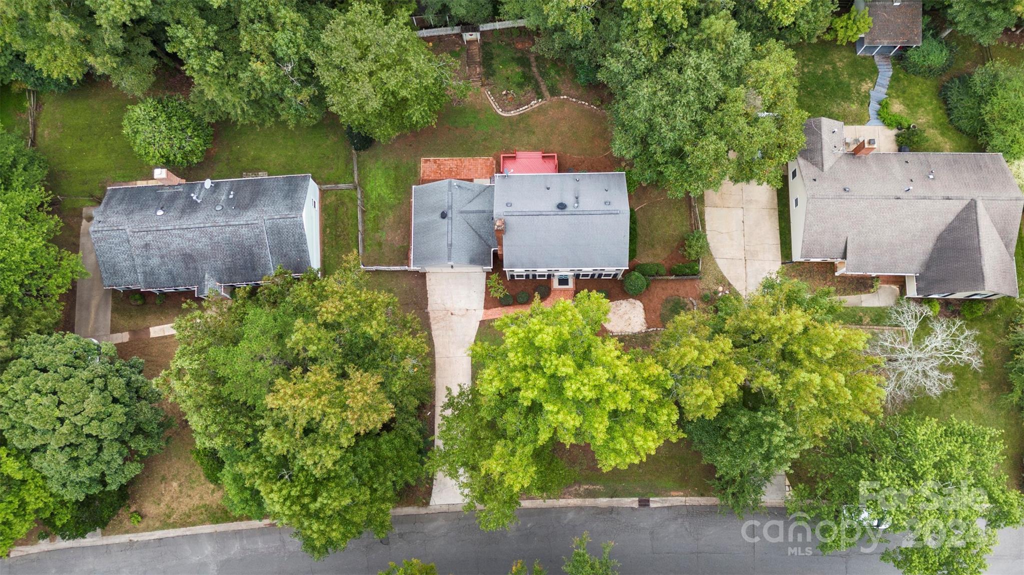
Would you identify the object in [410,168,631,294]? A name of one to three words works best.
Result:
house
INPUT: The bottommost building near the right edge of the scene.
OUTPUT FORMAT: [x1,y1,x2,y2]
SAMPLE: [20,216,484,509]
[782,117,1024,302]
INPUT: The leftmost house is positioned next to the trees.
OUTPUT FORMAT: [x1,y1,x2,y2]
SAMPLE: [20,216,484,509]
[90,168,324,296]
